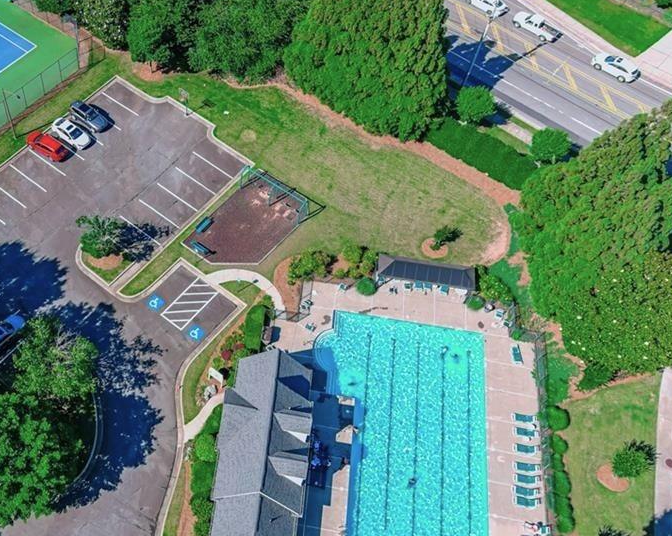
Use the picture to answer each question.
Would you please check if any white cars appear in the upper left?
Yes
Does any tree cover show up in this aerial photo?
Yes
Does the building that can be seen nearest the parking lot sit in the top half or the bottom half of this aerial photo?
bottom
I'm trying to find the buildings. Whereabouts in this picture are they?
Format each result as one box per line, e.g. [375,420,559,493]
[376,253,475,302]
[207,347,316,536]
